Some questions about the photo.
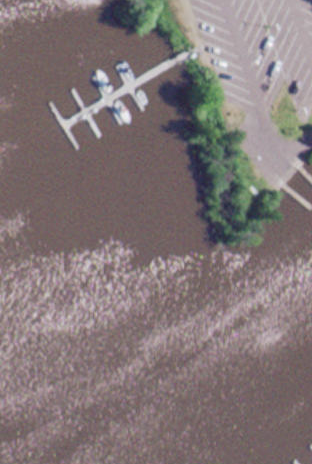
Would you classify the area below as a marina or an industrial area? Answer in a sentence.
This looks like a marina.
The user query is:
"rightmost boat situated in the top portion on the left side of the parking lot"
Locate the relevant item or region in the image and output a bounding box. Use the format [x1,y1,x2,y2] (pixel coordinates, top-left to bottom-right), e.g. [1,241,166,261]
[136,88,150,108]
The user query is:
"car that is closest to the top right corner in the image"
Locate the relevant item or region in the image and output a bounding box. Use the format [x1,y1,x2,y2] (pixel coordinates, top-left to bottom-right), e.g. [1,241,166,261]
[265,34,277,52]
